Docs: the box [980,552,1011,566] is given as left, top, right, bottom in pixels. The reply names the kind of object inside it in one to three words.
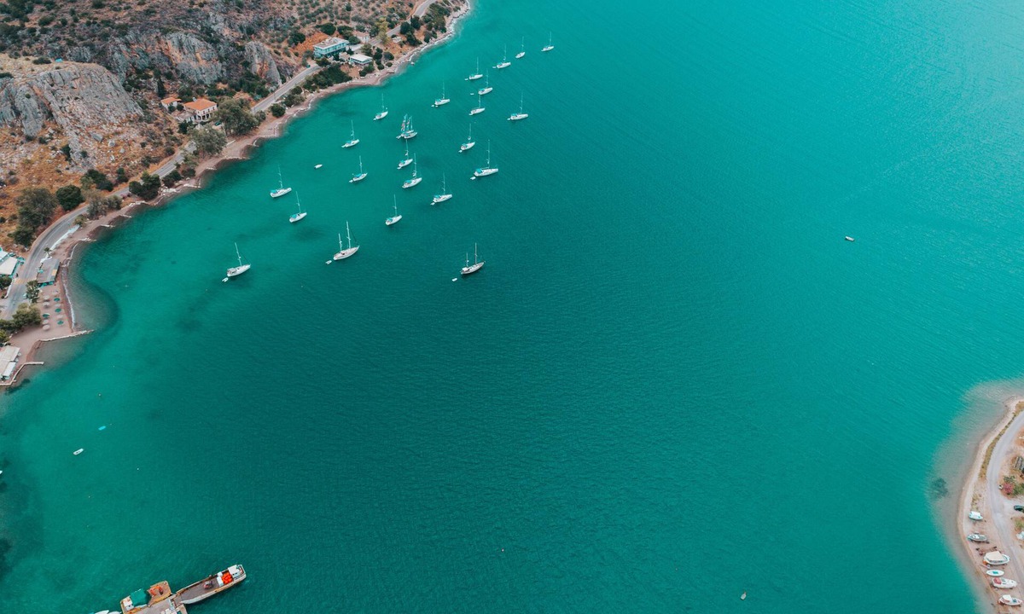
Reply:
boat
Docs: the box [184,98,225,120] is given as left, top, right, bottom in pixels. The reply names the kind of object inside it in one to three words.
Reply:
house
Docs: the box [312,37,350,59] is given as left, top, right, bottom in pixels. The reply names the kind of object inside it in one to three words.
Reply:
building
